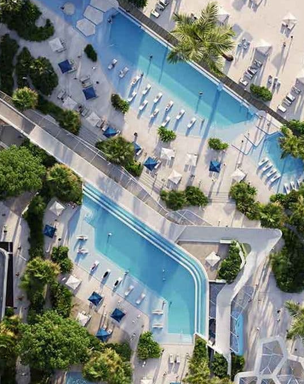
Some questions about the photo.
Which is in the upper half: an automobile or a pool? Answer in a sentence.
The feature located in the upper half is a pool.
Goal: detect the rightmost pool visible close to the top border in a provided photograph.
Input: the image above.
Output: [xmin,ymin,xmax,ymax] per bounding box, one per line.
[91,6,261,147]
